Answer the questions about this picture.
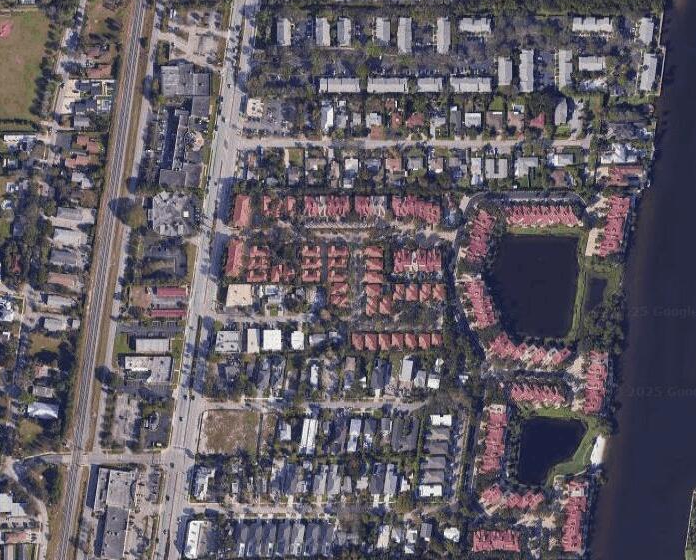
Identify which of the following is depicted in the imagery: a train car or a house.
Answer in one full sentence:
This aerial view contains a house.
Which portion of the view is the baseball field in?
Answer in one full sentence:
Look in the top left portion of the view to spot the baseball field.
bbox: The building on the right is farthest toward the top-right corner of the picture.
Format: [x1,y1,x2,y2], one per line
[638,16,655,44]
